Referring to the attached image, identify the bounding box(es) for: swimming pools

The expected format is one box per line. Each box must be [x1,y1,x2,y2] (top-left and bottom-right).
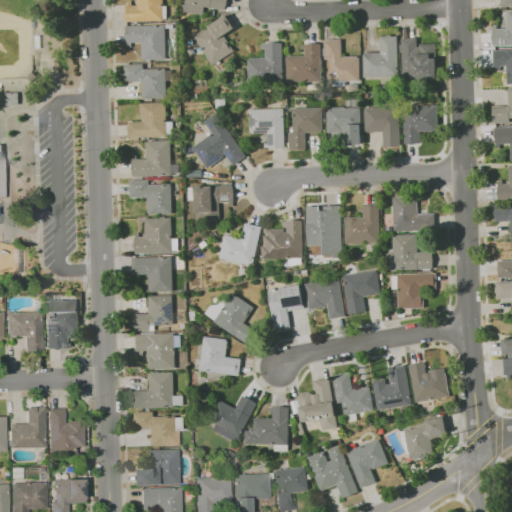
[12,450,36,462]
[7,296,34,312]
[387,432,406,458]
[181,454,190,478]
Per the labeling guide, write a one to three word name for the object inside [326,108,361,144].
house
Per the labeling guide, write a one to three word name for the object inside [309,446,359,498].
house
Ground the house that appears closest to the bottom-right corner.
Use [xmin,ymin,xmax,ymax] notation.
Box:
[404,414,447,458]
